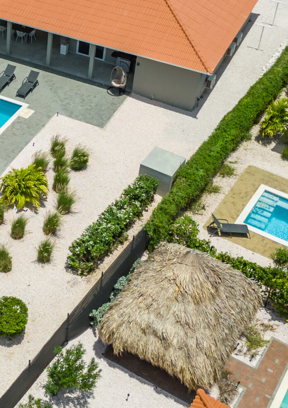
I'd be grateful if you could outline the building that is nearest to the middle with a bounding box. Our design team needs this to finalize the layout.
[140,148,187,197]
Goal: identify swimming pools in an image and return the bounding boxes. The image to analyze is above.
[0,97,27,134]
[236,184,288,243]
[262,364,288,408]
